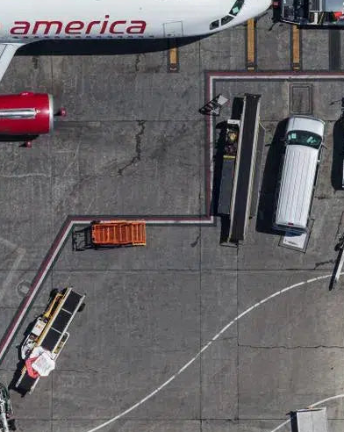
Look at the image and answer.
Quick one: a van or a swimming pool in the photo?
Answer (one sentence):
Looking from above, you can make out a van.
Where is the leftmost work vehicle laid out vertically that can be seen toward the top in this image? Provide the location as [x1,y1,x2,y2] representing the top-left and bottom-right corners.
[221,96,267,247]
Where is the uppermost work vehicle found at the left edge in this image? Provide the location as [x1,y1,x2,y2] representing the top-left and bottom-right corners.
[15,287,83,393]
